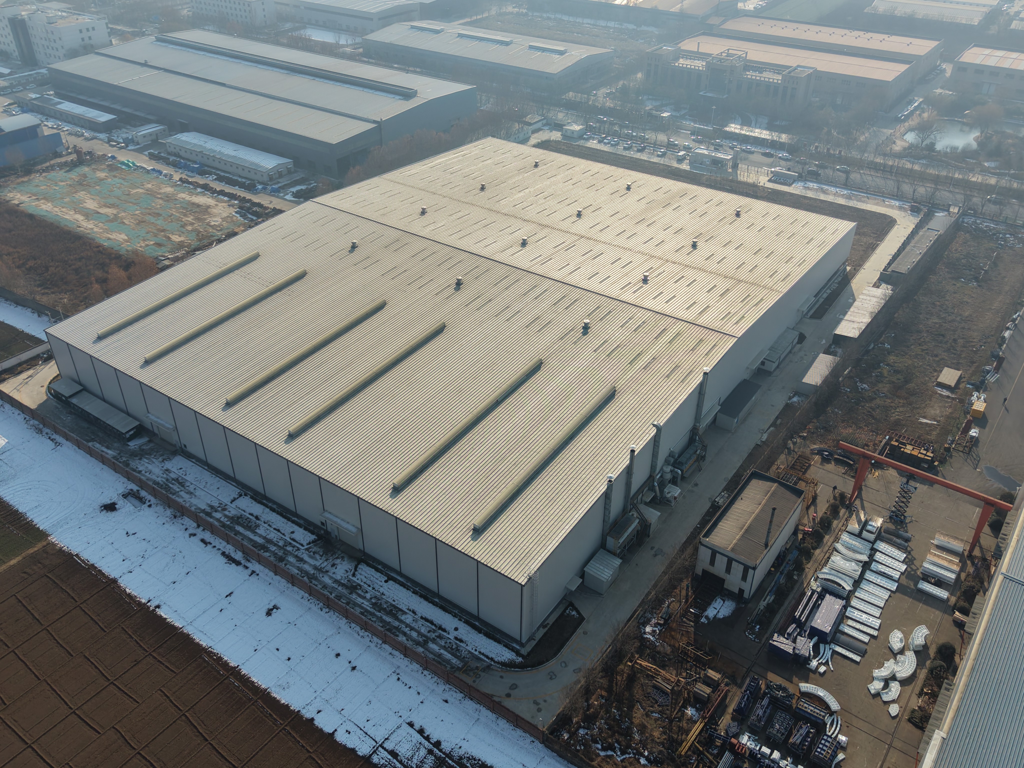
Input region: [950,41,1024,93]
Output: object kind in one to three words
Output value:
building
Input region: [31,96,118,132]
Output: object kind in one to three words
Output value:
building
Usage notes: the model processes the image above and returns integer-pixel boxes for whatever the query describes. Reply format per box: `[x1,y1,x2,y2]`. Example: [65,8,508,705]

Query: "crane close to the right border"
[836,445,1015,556]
